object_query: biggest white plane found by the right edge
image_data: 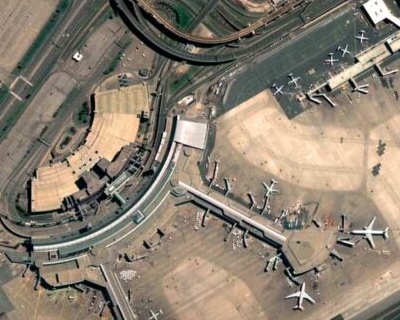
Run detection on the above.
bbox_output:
[351,215,388,248]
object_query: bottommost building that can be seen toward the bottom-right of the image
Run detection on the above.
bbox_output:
[282,228,329,275]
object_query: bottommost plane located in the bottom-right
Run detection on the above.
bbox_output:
[286,282,314,311]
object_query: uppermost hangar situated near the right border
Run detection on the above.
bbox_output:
[366,0,400,28]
